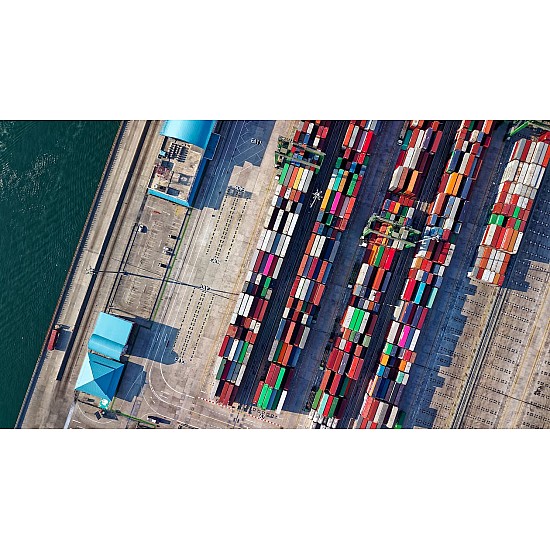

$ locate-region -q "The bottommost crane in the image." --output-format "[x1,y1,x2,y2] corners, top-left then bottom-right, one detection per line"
[359,212,422,254]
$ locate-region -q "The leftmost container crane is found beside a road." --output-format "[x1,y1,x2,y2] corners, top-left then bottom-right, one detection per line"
[272,134,329,182]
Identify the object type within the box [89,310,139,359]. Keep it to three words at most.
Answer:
shed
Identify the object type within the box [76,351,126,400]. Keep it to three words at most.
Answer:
building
